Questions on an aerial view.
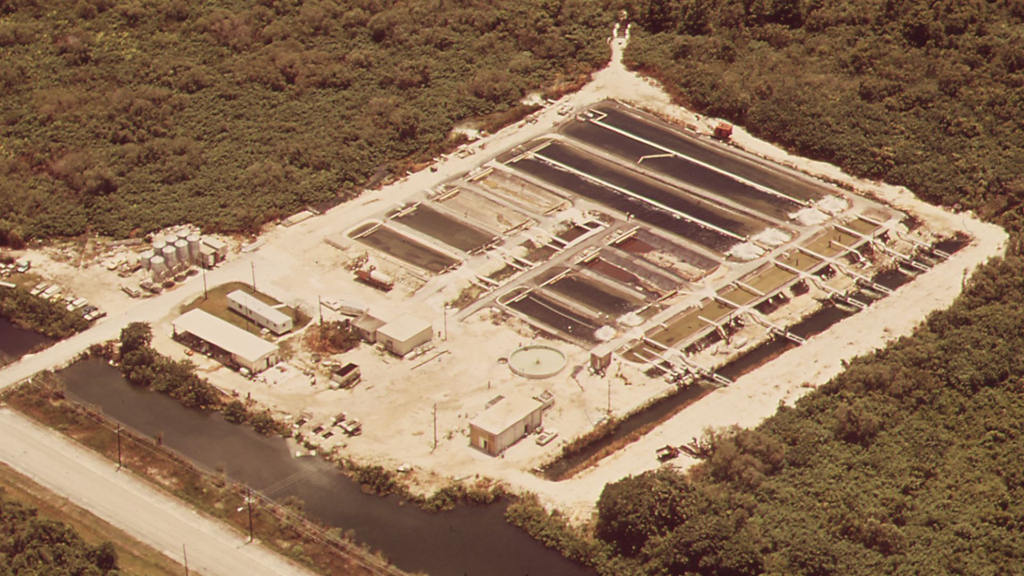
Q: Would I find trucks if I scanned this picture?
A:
Yes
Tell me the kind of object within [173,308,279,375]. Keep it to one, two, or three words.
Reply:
shed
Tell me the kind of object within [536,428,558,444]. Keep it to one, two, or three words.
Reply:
vehicle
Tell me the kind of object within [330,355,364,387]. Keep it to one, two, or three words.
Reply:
truck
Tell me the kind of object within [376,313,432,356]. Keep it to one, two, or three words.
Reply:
building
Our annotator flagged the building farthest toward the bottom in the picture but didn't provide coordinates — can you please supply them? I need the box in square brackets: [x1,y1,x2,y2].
[465,392,543,460]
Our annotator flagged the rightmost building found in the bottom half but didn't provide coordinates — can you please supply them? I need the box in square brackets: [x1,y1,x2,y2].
[590,345,612,371]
